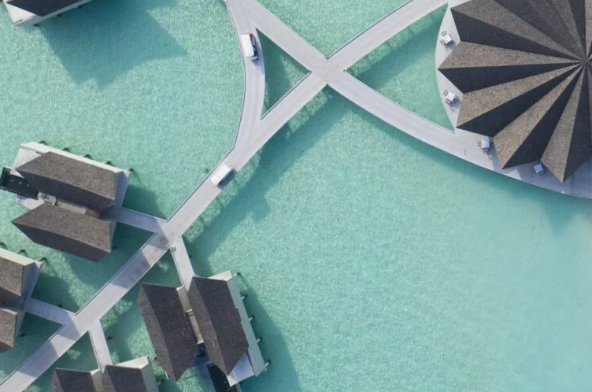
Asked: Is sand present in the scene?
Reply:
Yes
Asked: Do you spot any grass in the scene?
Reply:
No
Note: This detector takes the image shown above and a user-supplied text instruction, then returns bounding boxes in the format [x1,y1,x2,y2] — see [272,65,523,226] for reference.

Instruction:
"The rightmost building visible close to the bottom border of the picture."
[138,263,275,392]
